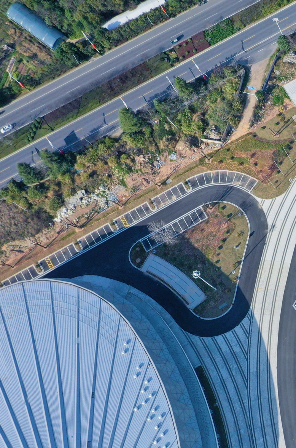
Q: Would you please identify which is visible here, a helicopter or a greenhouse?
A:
greenhouse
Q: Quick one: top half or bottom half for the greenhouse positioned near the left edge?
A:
top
